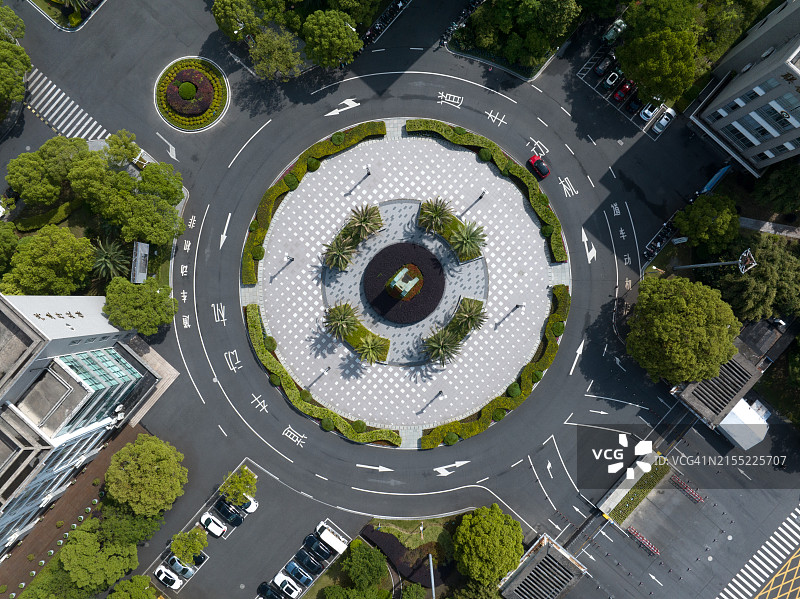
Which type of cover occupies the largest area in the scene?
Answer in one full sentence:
The scene is dominated by paved ground.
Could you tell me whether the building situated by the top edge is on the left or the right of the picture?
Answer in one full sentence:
It is on the right.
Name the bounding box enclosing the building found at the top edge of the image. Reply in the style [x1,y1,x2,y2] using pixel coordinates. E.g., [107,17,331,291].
[677,0,800,180]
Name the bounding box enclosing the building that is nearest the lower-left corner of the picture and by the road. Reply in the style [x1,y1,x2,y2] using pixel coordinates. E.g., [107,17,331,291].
[0,295,183,538]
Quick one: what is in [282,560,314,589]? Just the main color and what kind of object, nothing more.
blue car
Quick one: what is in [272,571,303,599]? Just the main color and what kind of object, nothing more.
white car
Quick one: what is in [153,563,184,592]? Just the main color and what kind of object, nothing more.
white car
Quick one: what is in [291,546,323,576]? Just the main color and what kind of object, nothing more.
black car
